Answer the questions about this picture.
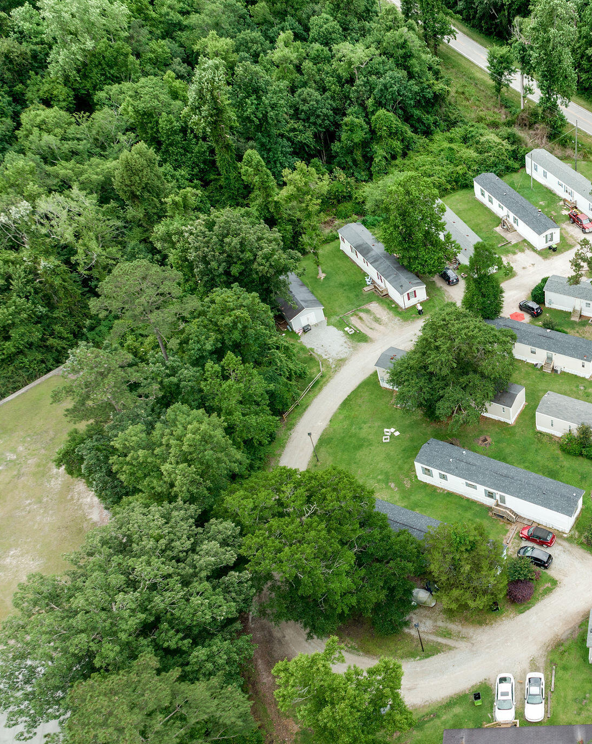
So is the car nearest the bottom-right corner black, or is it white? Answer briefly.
white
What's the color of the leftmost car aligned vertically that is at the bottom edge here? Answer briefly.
white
